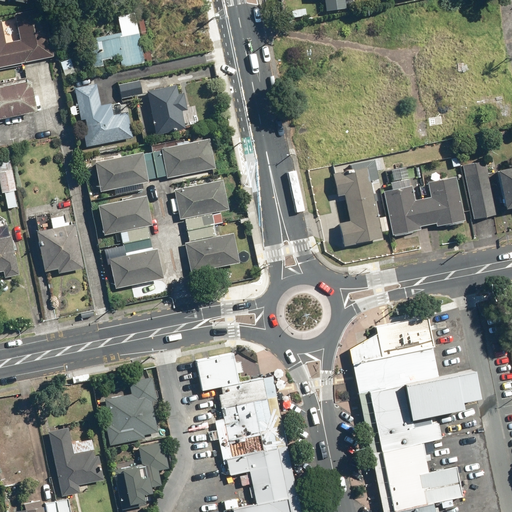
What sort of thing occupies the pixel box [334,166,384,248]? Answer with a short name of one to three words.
house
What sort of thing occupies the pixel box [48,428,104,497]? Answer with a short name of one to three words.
house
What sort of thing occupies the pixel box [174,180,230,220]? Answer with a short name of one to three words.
building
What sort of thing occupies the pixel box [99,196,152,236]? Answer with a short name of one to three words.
building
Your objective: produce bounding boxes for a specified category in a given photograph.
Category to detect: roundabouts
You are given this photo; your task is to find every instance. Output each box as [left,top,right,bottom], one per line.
[276,284,331,340]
